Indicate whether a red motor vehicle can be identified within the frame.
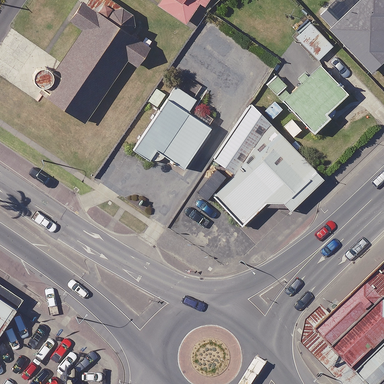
Yes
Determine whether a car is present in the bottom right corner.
Yes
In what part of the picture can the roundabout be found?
bottom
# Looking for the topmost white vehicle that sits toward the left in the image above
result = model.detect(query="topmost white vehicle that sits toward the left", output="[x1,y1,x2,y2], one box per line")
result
[30,208,59,233]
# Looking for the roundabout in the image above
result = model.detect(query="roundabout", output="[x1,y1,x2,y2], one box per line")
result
[178,325,242,384]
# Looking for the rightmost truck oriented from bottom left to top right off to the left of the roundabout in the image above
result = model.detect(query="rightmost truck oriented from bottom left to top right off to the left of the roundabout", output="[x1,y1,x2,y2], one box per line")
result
[74,351,100,375]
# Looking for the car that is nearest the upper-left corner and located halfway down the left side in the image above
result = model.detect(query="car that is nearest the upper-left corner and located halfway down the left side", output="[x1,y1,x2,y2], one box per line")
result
[28,166,58,188]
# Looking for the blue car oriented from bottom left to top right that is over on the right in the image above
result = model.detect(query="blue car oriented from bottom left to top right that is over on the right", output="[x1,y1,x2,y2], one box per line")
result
[320,236,343,258]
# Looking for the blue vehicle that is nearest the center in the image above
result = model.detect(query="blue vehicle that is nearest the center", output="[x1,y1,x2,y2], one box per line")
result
[196,198,222,220]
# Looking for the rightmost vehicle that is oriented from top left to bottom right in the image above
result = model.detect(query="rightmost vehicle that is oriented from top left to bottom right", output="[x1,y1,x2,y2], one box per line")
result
[330,56,351,78]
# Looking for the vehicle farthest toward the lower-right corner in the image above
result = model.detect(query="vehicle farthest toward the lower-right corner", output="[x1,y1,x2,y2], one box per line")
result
[294,290,316,312]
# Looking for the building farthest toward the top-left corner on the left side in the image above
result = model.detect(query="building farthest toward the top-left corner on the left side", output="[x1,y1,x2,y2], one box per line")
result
[32,0,150,124]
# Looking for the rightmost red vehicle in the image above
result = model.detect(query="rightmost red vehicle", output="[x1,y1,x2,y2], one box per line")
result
[312,220,338,243]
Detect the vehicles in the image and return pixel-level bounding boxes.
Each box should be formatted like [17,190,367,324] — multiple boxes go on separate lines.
[320,236,343,258]
[312,220,338,243]
[30,368,52,384]
[196,198,222,220]
[330,56,351,78]
[56,352,78,375]
[74,351,100,375]
[6,329,20,350]
[0,341,12,362]
[45,288,58,315]
[34,338,54,362]
[30,208,59,233]
[12,354,29,374]
[49,338,72,363]
[13,316,28,338]
[294,290,316,312]
[3,377,15,384]
[28,166,58,188]
[27,324,48,348]
[82,372,102,383]
[372,170,384,189]
[238,356,268,384]
[344,236,373,262]
[67,278,92,300]
[20,358,42,380]
[284,276,306,297]
[180,295,208,312]
[184,206,214,230]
